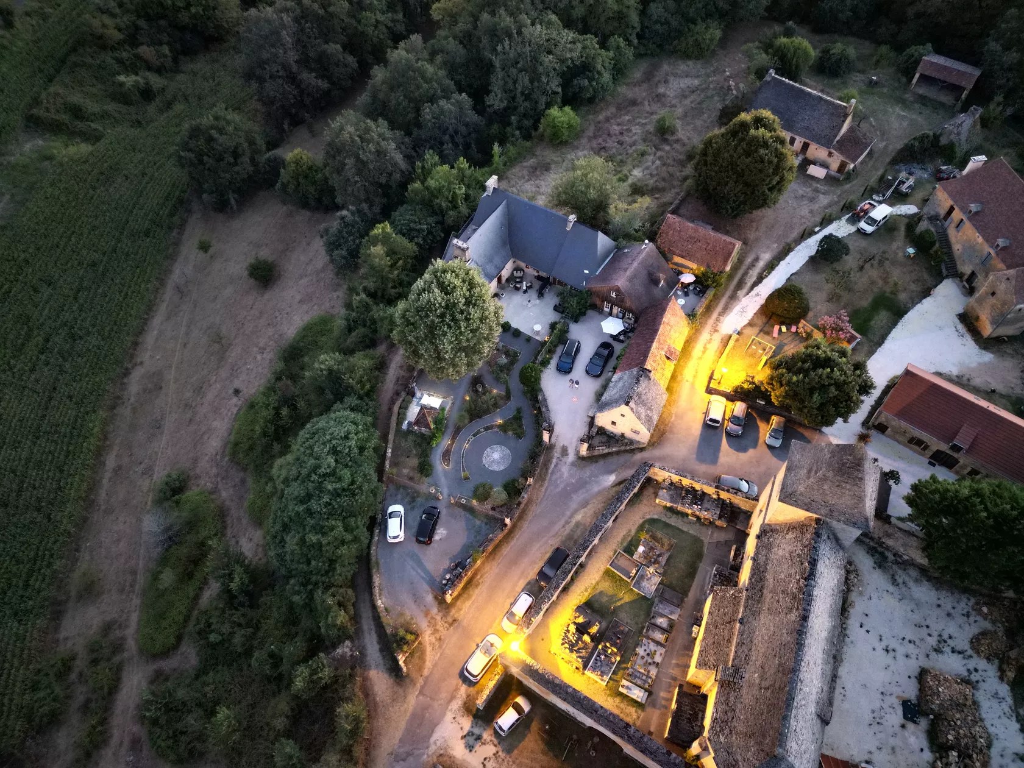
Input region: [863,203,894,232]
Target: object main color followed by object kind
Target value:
white car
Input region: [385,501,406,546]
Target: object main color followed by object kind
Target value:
white car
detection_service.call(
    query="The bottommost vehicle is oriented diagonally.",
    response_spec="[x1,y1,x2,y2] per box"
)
[490,691,535,741]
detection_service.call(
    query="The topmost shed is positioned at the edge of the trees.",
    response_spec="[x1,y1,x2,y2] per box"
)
[912,49,985,105]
